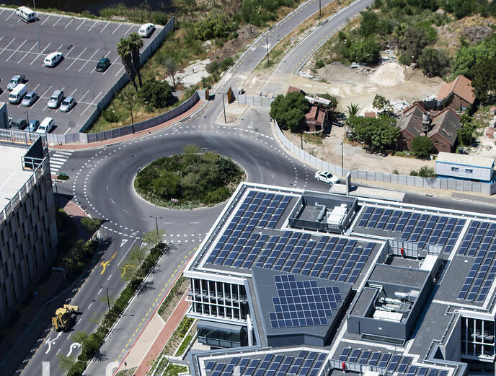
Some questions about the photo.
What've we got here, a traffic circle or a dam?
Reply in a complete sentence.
I can see a traffic circle in this picture.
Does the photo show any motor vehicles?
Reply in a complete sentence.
Yes, there's a motor vehicle down there.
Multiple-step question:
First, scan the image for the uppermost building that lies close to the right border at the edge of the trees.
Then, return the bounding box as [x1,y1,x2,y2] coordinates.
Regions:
[441,73,473,111]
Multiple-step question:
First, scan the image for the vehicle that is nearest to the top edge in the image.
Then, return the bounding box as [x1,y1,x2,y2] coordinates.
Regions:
[16,6,35,21]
